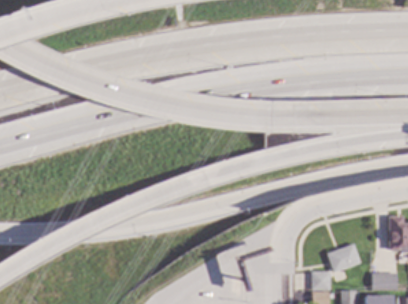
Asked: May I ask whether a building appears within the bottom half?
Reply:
Yes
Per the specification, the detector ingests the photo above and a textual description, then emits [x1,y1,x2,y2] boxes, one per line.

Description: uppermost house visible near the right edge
[386,216,408,251]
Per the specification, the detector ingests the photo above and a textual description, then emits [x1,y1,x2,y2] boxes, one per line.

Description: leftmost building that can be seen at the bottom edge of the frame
[311,270,331,304]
